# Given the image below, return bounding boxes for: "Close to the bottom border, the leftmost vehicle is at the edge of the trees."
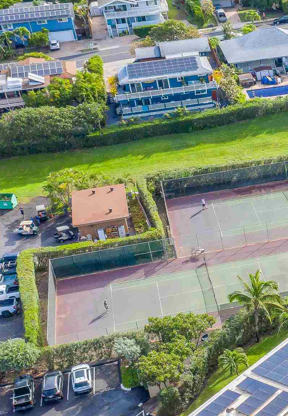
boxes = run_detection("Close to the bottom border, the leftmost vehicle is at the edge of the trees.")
[6,373,38,412]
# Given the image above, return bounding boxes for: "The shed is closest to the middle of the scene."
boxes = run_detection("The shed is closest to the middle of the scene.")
[72,184,131,242]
